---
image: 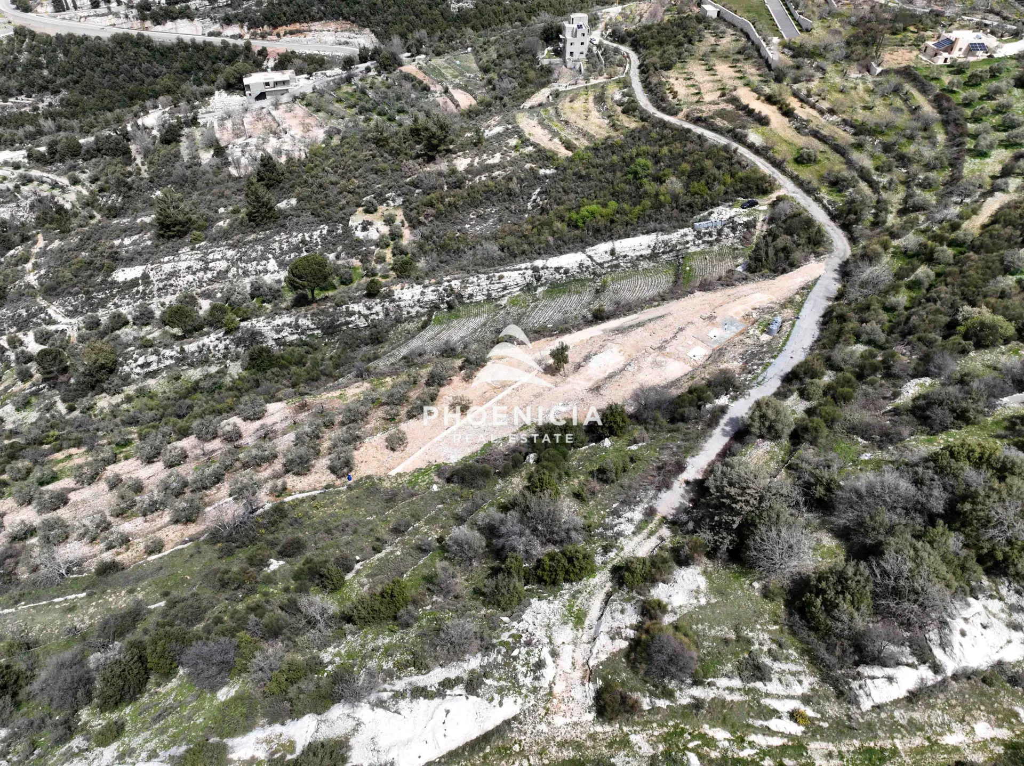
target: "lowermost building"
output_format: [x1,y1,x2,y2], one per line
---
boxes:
[242,67,312,101]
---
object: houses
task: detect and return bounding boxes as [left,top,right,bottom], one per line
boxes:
[242,67,312,101]
[914,27,994,68]
[561,10,591,60]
